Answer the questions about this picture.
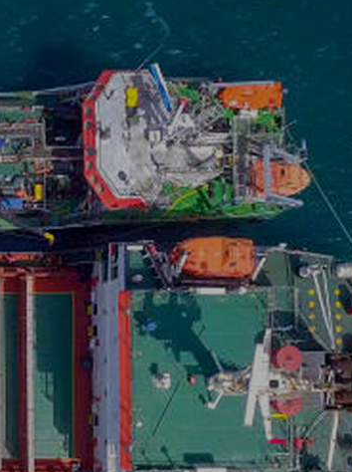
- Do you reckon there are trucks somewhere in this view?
No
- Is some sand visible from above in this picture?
No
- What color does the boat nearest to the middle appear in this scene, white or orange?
orange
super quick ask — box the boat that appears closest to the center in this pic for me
[166,238,252,278]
